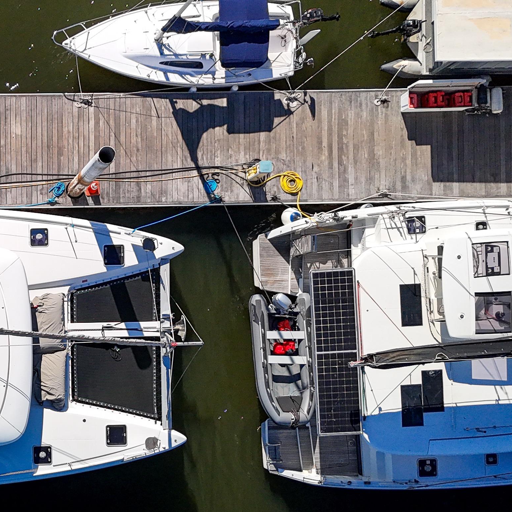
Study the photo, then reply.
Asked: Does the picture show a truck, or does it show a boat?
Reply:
boat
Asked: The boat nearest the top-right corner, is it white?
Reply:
Yes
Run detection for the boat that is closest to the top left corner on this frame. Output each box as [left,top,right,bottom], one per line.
[51,0,340,86]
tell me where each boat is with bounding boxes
[0,210,206,483]
[369,0,512,81]
[250,201,512,489]
[250,291,316,427]
[51,0,340,86]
